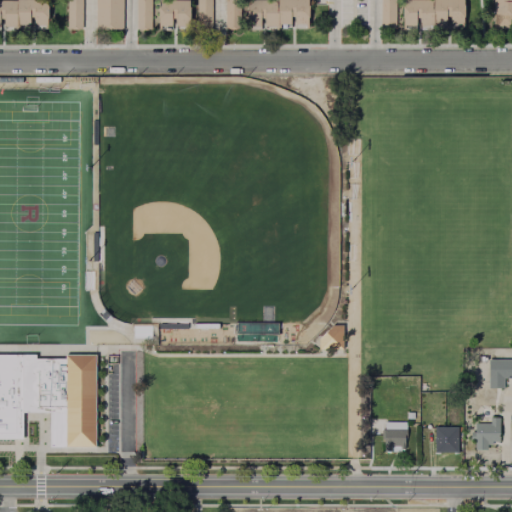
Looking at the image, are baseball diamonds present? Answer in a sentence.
Yes, a baseball diamond appears in the view.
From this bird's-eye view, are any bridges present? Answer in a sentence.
No, the scene contains no bridge.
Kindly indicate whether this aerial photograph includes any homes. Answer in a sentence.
Yes, there's a home down there.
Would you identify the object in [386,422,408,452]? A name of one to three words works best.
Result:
house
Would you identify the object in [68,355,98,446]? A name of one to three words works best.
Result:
building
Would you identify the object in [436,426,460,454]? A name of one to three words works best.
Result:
house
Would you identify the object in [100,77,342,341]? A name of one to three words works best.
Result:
baseball field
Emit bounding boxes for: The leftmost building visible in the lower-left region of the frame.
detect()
[0,355,68,447]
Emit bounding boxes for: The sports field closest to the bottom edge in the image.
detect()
[144,354,348,456]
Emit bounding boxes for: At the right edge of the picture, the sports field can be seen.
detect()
[361,77,512,392]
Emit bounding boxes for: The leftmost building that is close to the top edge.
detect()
[0,0,50,30]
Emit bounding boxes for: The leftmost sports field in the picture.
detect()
[0,90,112,344]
